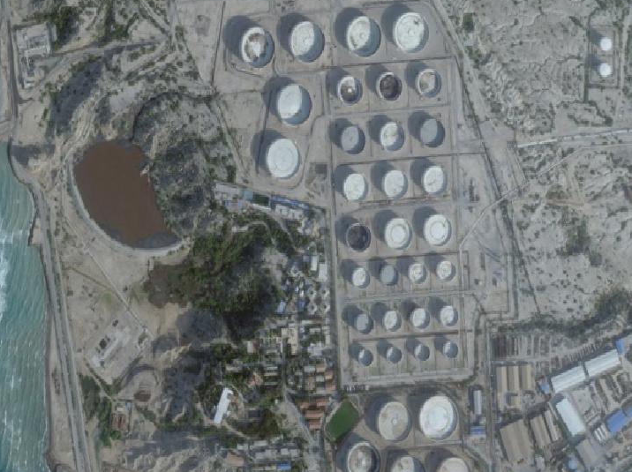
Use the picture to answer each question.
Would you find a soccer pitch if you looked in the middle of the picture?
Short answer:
No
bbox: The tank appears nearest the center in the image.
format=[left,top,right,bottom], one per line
[341,221,371,254]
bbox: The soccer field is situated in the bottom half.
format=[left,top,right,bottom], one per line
[325,398,360,442]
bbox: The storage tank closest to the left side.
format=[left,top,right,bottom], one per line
[235,26,276,69]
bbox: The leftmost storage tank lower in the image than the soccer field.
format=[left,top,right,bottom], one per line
[341,440,382,472]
